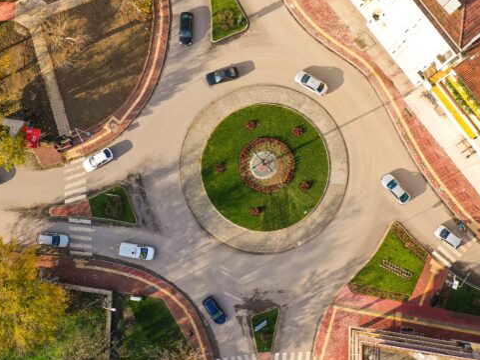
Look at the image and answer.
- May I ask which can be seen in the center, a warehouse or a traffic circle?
traffic circle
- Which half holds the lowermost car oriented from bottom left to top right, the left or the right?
left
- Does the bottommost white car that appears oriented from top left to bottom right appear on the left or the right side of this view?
right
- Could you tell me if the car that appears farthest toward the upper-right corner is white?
Yes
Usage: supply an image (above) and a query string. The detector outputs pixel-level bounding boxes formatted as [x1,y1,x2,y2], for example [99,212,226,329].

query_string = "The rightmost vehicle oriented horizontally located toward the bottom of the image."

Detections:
[117,242,156,261]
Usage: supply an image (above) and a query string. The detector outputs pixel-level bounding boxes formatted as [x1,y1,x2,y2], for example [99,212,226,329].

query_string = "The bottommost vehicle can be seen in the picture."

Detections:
[199,292,229,326]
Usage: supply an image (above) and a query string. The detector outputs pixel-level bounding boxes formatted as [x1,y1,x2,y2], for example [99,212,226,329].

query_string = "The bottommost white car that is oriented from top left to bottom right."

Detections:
[433,224,464,251]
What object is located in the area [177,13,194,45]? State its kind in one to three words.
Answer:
car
